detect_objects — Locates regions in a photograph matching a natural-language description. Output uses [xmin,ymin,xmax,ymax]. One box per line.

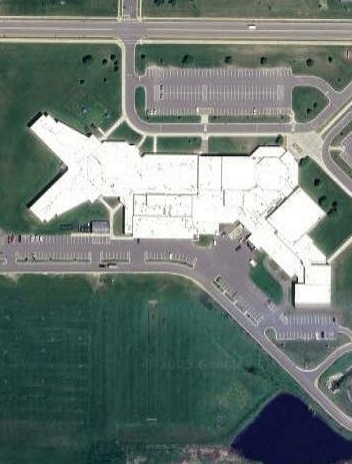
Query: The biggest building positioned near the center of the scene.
[28,115,331,305]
